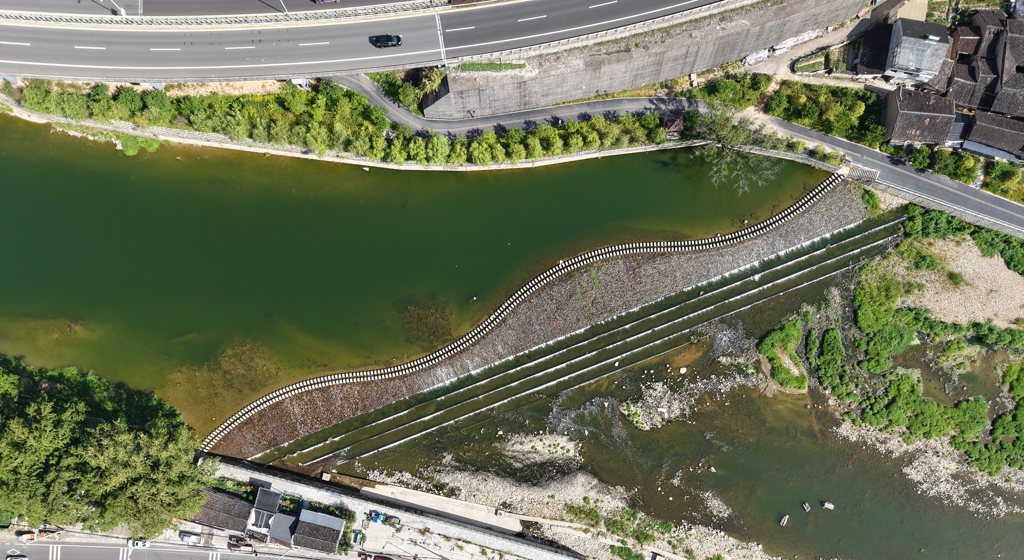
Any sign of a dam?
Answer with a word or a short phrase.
Yes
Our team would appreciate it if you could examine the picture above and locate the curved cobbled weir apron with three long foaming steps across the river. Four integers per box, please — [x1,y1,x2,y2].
[204,173,911,477]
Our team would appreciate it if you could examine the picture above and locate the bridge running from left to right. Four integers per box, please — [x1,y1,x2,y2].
[0,0,445,90]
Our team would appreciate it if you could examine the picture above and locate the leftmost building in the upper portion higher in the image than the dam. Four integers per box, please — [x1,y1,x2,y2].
[666,112,688,138]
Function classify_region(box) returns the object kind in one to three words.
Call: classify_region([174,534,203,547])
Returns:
vehicle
